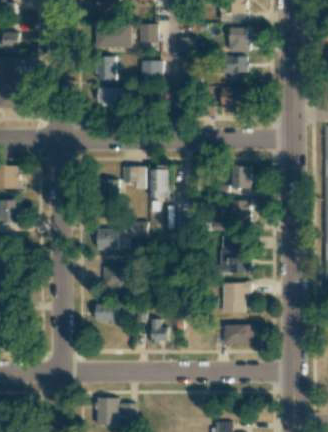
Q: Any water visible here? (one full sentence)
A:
No, no water is visible.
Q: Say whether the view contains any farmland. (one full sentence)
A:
No, the picture contains no farmland.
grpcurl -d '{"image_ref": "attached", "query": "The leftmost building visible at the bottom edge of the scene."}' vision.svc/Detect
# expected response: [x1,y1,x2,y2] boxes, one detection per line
[97,398,139,426]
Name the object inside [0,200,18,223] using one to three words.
house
